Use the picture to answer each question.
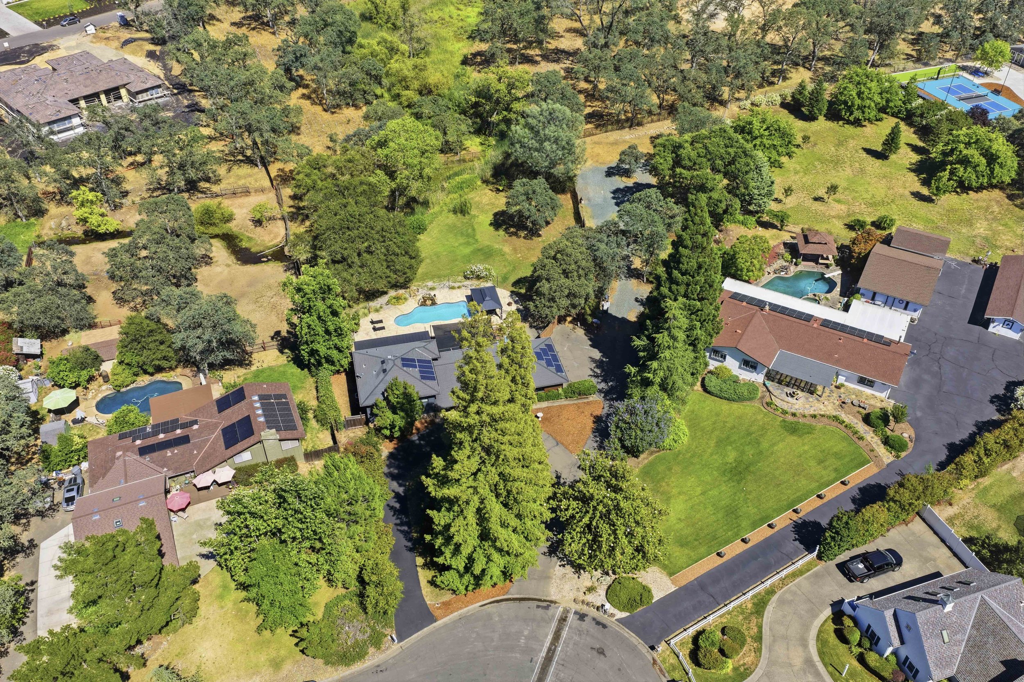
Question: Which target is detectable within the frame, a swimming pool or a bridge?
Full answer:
It is a swimming pool that can be seen here.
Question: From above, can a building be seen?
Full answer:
Yes, you can see a building in this photo.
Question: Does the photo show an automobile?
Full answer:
Yes, an automobile appears in the view.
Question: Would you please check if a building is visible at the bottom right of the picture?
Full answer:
Yes, I can see a building at the bottom right of the picture.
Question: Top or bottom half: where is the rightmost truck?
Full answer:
The rightmost truck is in the bottom half of the image.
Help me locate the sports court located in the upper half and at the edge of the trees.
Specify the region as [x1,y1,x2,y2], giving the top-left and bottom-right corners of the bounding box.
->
[919,75,1022,120]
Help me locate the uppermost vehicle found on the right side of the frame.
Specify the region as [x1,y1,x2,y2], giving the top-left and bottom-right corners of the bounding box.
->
[844,548,908,584]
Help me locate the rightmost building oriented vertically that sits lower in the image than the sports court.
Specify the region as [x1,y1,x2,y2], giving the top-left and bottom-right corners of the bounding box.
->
[980,254,1024,349]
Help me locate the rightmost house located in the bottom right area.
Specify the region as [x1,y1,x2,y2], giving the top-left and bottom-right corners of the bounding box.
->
[852,568,1024,682]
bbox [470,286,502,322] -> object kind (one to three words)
gazebo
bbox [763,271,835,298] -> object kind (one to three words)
swimming pool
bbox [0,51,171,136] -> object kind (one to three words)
house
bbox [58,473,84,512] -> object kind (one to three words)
car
